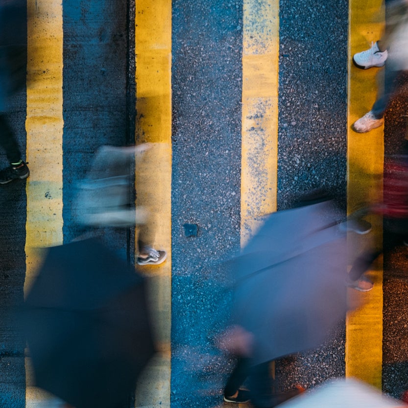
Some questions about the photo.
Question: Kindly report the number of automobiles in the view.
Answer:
0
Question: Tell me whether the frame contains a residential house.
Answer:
No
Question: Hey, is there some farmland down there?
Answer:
No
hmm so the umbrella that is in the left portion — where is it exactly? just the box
[21,237,167,407]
